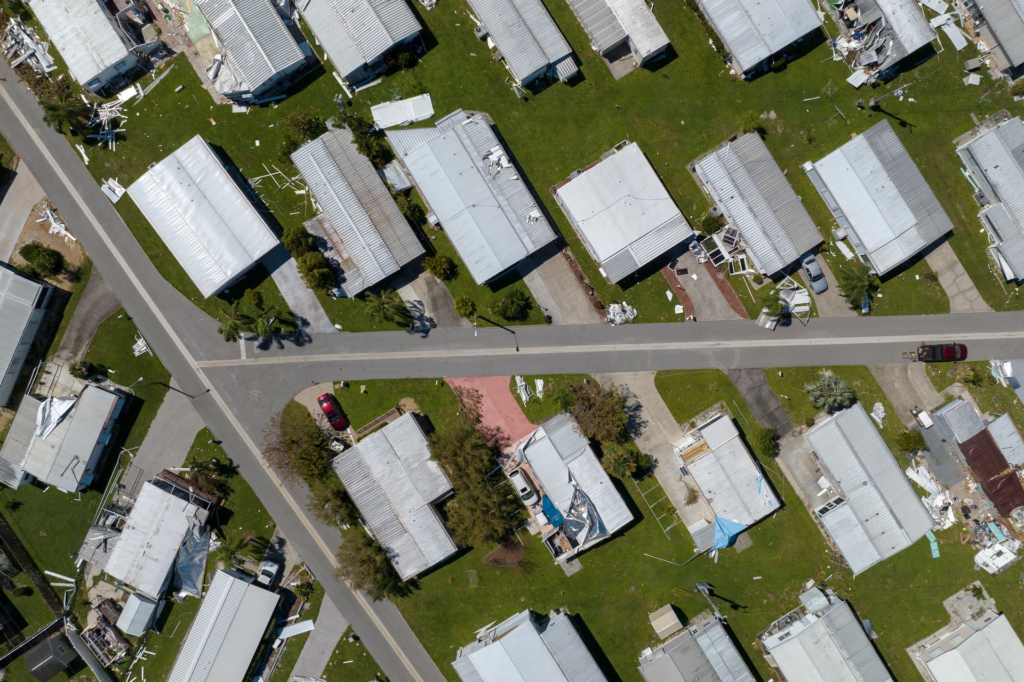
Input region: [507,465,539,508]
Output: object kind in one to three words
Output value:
car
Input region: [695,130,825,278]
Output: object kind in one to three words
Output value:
house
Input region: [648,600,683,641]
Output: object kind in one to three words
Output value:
shed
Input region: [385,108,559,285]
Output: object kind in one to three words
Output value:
house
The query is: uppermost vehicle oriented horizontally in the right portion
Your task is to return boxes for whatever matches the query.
[915,341,968,363]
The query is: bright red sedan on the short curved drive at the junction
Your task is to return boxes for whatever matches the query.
[317,391,350,433]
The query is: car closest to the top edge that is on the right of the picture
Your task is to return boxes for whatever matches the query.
[799,250,827,296]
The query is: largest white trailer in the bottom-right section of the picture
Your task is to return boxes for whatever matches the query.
[969,536,1020,576]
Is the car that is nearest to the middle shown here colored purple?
No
